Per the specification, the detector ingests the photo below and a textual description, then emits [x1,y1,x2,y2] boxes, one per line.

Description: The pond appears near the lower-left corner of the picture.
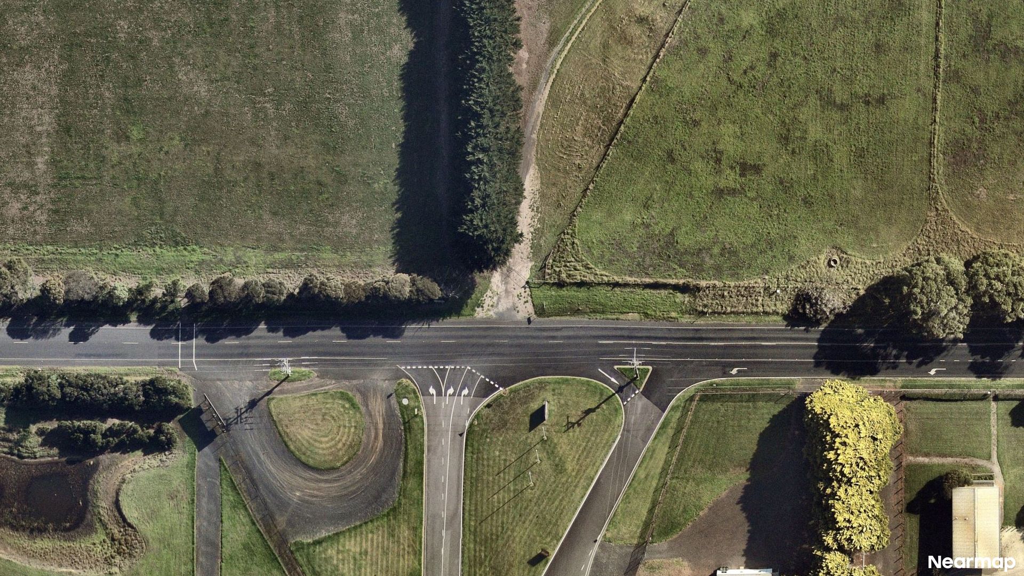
[24,471,83,521]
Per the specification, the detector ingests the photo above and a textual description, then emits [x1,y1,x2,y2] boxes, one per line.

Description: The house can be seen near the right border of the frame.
[952,485,1001,572]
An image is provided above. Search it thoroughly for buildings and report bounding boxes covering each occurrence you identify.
[952,485,1001,572]
[717,570,772,576]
